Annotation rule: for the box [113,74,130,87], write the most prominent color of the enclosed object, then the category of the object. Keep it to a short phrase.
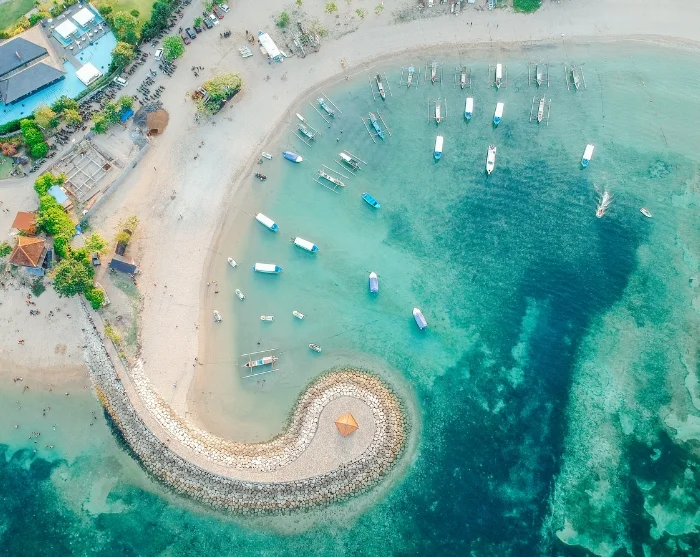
white vehicle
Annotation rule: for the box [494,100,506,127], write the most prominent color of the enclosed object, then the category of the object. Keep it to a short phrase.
white boat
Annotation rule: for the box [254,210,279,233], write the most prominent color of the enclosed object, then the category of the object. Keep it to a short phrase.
white boat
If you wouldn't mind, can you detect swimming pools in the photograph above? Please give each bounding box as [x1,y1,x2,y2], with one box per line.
[0,1,113,125]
